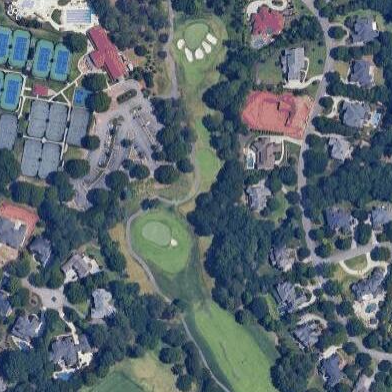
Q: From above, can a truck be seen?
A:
No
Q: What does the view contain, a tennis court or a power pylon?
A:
tennis court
